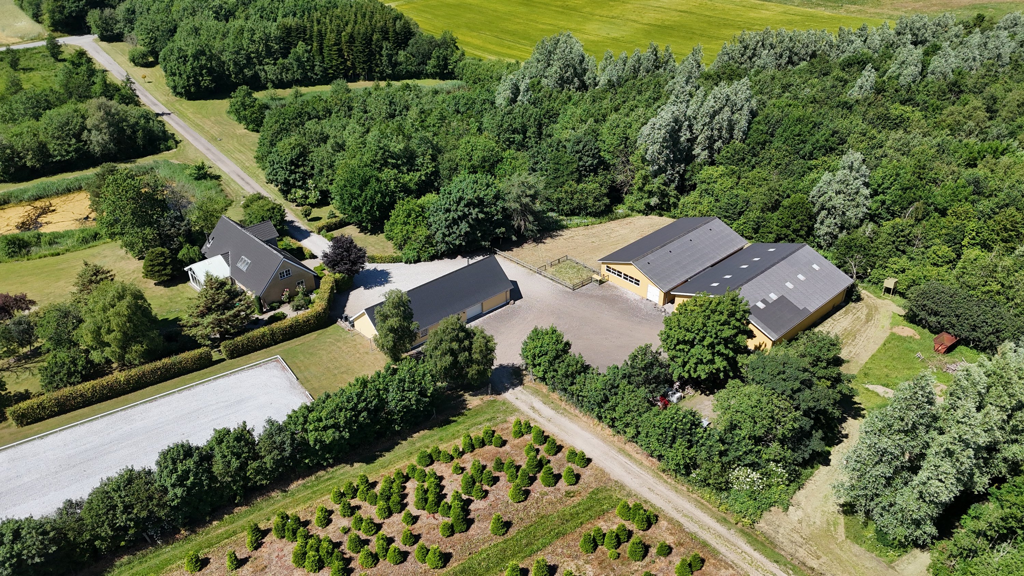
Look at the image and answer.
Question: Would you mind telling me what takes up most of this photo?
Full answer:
The largest share of the image is taken up by trees.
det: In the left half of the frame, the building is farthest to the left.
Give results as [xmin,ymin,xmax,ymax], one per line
[184,218,318,314]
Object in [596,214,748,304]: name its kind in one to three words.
barn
